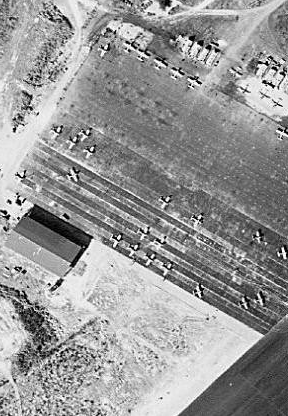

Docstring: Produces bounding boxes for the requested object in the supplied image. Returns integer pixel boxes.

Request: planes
[99,44,107,54]
[155,236,164,246]
[137,50,149,61]
[85,146,93,156]
[259,92,269,101]
[16,170,25,180]
[171,69,183,80]
[139,228,148,238]
[163,263,170,273]
[161,197,169,207]
[277,130,288,140]
[124,42,136,53]
[145,254,154,264]
[67,169,78,181]
[193,213,202,223]
[238,297,248,309]
[68,137,76,147]
[80,129,90,139]
[112,235,121,245]
[51,126,59,137]
[129,244,137,254]
[188,79,200,89]
[239,88,249,97]
[251,230,261,244]
[276,247,287,260]
[155,59,166,70]
[252,293,263,305]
